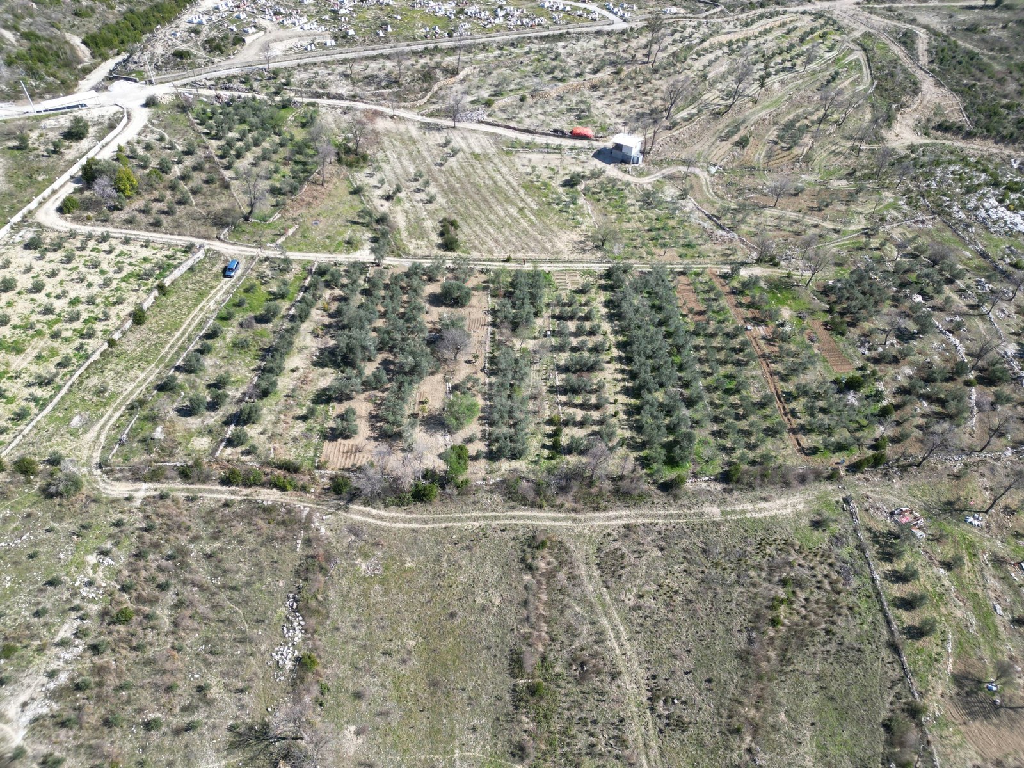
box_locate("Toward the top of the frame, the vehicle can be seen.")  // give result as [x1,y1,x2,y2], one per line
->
[225,259,239,277]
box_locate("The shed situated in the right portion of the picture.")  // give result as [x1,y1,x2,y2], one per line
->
[606,128,643,171]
